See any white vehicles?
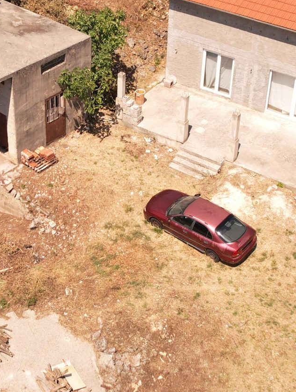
No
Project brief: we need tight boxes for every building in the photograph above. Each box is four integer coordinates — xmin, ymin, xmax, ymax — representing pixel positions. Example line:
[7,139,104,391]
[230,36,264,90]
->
[166,0,296,122]
[0,0,92,165]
